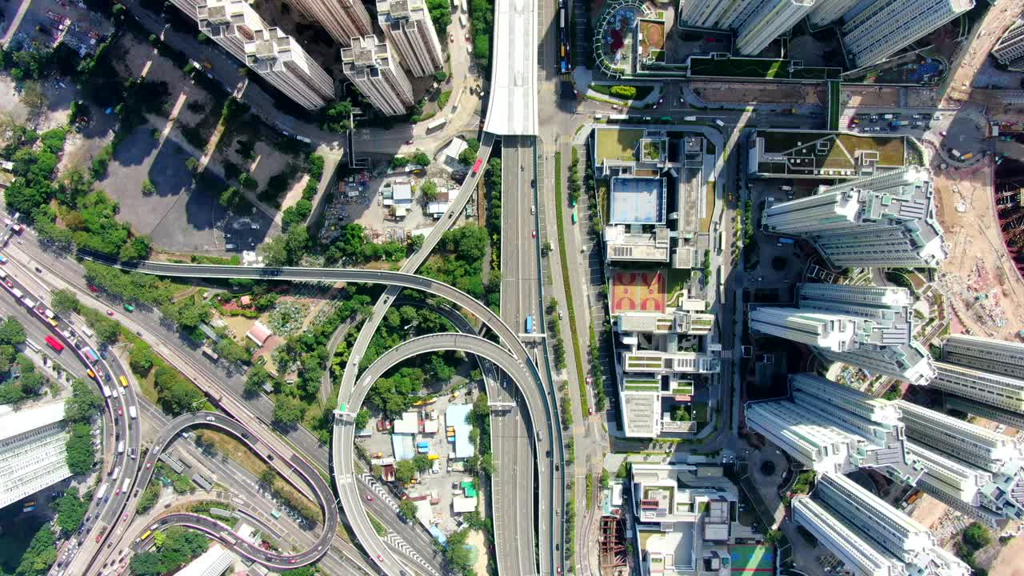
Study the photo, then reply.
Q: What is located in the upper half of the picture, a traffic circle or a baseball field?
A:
traffic circle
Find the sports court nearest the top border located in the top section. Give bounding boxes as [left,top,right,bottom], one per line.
[614,178,657,223]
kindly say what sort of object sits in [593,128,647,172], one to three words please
building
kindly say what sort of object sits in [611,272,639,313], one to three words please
basketball court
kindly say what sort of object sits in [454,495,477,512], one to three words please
shed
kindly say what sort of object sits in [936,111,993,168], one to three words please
roundabout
